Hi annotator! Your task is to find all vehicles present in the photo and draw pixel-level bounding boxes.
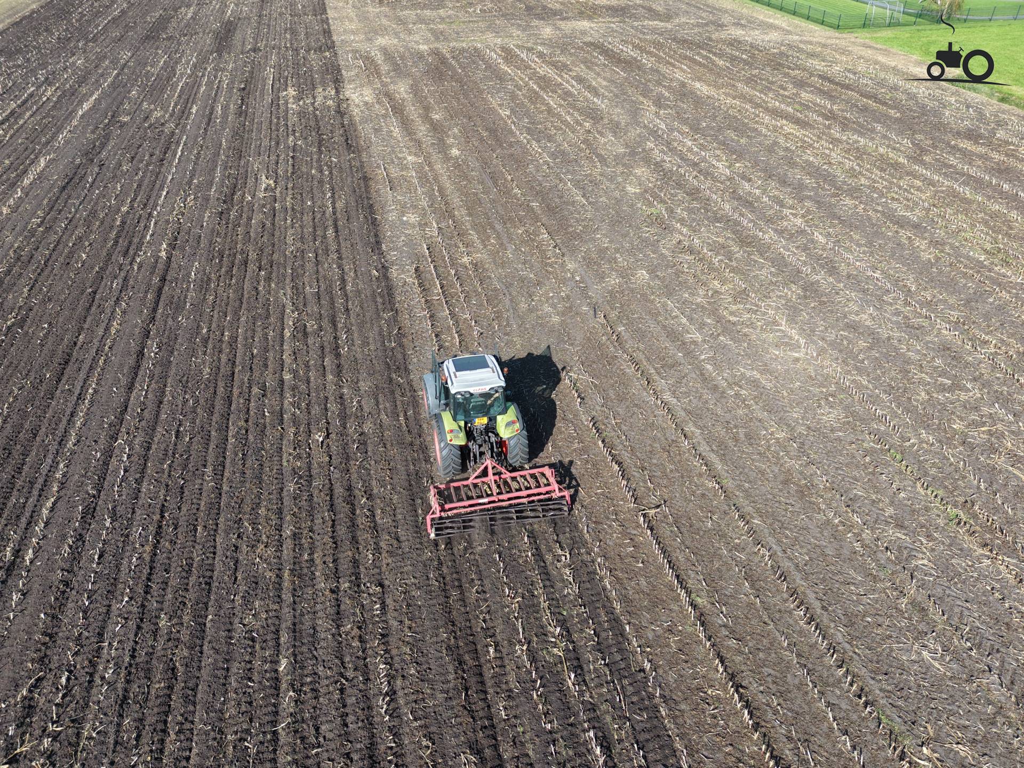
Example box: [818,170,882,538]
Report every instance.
[423,343,530,477]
